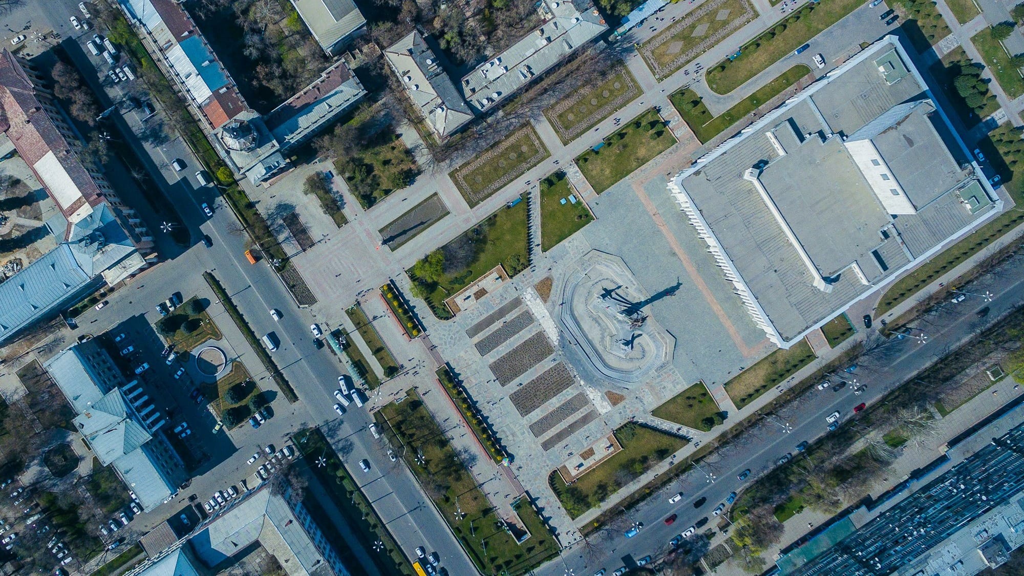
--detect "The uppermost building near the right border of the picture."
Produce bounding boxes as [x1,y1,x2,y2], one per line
[650,36,1002,348]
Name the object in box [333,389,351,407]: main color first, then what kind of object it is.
white vehicle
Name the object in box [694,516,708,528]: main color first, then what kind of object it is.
black vehicle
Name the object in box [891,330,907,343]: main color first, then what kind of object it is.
blue vehicle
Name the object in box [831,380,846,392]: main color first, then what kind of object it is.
black vehicle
